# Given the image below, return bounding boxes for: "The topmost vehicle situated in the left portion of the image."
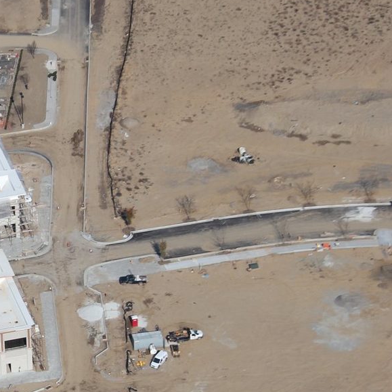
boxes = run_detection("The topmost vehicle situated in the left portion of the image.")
[117,273,149,286]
